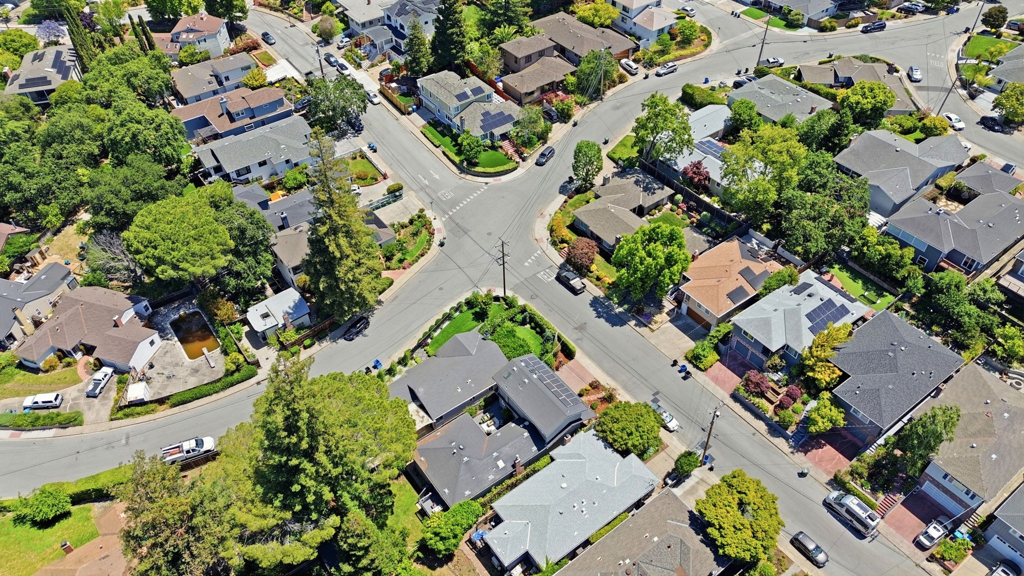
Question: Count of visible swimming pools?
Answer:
1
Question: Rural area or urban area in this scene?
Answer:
urban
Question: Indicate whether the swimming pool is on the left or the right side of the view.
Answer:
left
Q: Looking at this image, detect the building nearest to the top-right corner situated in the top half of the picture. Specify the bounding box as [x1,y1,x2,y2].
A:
[985,47,1024,94]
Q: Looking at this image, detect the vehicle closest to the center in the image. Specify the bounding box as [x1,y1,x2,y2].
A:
[553,269,590,299]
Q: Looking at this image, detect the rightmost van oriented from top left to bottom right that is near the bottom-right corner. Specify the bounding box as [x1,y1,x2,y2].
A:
[822,493,883,541]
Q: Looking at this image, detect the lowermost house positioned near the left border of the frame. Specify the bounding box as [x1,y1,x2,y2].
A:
[35,505,145,576]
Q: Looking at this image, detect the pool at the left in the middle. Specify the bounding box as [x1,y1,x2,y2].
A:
[166,308,229,362]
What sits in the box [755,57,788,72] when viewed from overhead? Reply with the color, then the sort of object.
gray vehicle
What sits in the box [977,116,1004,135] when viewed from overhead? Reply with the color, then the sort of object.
black car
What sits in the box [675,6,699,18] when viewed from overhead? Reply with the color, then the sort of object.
gray vehicle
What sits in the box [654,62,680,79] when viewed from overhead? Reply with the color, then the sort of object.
gray car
